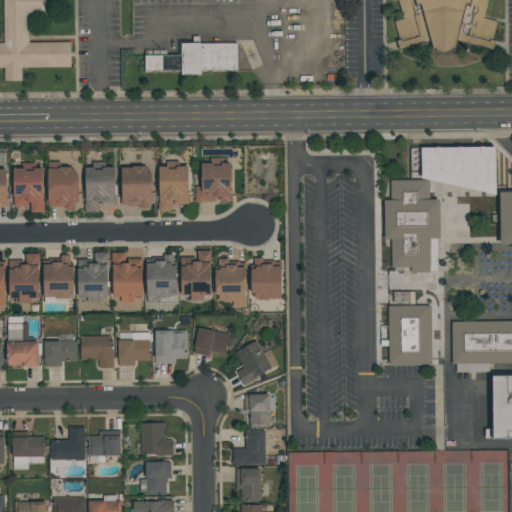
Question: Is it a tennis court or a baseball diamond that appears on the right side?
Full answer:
You can see a tennis court on the right side.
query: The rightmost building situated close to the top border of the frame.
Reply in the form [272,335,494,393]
[396,0,500,52]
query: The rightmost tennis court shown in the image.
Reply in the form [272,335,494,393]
[472,450,508,512]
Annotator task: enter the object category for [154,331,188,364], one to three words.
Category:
house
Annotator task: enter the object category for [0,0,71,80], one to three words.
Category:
building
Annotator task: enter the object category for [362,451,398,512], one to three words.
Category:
tennis court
